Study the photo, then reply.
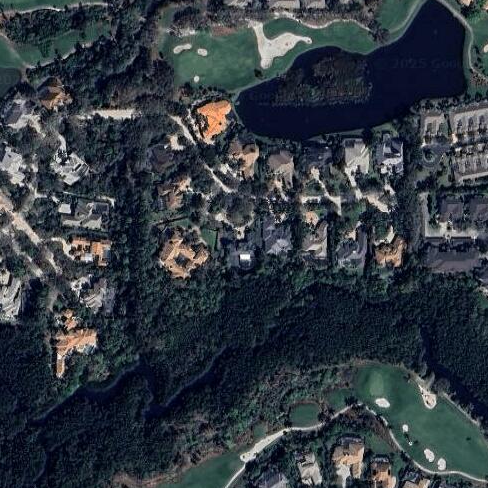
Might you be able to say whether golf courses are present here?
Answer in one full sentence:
Yes, the picture does show a golf course.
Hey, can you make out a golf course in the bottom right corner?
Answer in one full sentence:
Yes, the scene does show a golf course in the bottom right corner.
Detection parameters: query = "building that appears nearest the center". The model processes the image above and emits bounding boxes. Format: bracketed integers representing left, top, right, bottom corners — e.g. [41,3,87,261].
[229,231,253,256]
